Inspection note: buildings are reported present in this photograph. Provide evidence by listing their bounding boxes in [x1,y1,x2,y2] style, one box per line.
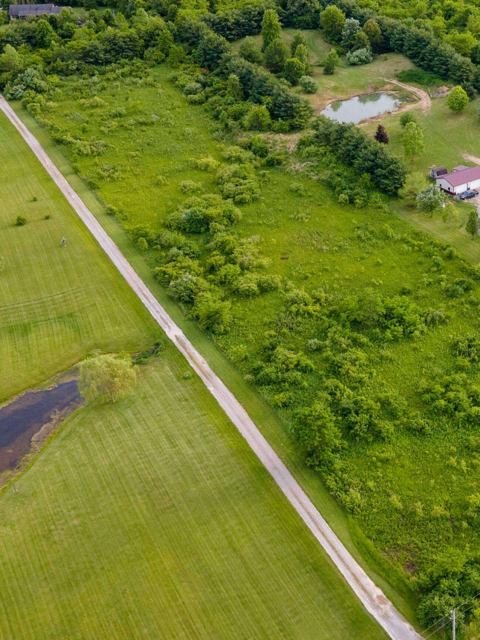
[438,166,480,195]
[7,5,80,23]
